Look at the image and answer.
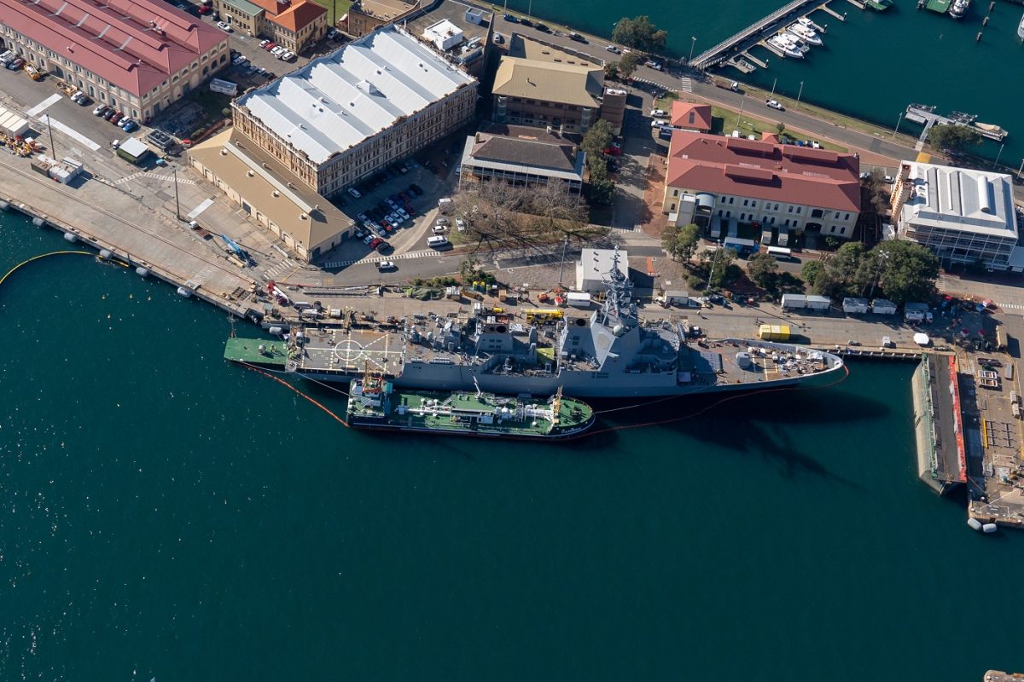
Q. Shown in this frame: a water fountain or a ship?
ship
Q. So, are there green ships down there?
Yes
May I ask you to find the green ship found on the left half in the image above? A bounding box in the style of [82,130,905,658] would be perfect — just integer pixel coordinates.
[224,300,287,372]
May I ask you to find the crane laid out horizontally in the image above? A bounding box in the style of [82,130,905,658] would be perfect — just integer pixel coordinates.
[523,309,566,322]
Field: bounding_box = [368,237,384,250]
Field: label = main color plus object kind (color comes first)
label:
red vehicle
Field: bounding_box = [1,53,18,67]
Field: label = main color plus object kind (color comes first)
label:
gray vehicle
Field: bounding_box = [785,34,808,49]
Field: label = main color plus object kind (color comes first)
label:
white boat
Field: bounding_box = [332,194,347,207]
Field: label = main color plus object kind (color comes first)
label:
black vehicle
